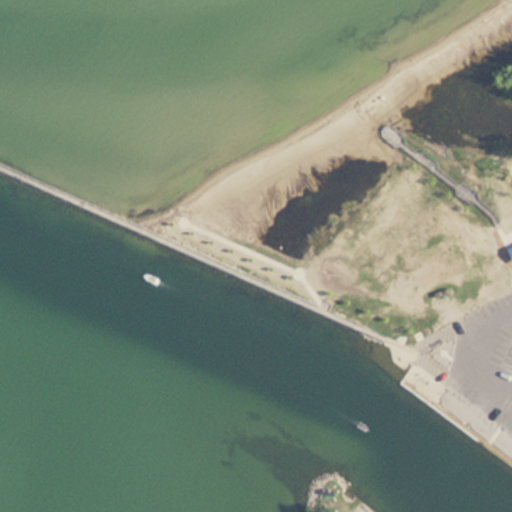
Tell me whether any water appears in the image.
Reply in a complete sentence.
Yes, there is water in the image.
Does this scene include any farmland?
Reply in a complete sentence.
No, there is no farmland in the image.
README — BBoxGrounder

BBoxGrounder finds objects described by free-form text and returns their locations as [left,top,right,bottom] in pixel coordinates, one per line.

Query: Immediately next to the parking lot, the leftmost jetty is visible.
[0,164,405,353]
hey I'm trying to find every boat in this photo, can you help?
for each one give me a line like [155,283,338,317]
[356,422,368,431]
[144,275,160,286]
